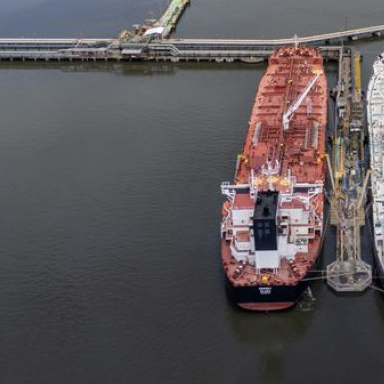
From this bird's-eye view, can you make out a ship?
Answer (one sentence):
Yes, a ship is visible in the scene.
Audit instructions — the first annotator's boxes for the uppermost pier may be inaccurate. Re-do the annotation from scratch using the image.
[151,0,191,38]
